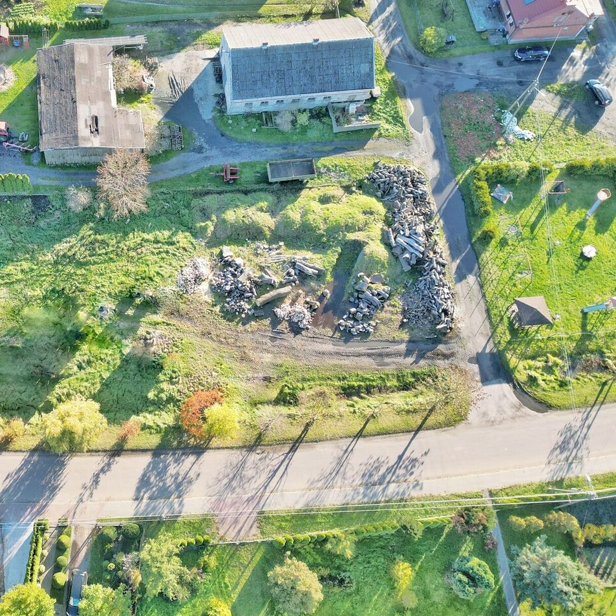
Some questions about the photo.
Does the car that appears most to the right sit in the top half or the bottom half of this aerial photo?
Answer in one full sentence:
The top half of the photo is where the car that appears most to the right is.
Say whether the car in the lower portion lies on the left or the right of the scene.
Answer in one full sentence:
It is on the left.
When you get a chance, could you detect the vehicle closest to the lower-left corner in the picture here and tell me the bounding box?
[65,571,87,616]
